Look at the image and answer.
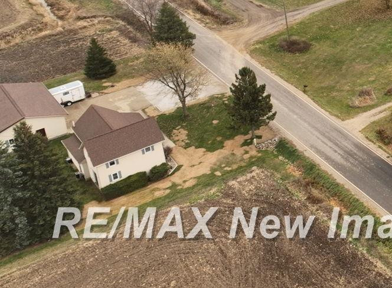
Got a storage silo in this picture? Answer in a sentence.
No, no storage silo is visible in the scene.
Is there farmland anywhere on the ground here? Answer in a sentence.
Yes, there's farmland in this view.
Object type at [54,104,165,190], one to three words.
house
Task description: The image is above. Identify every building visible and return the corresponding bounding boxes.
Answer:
[0,81,70,156]
[54,104,165,190]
